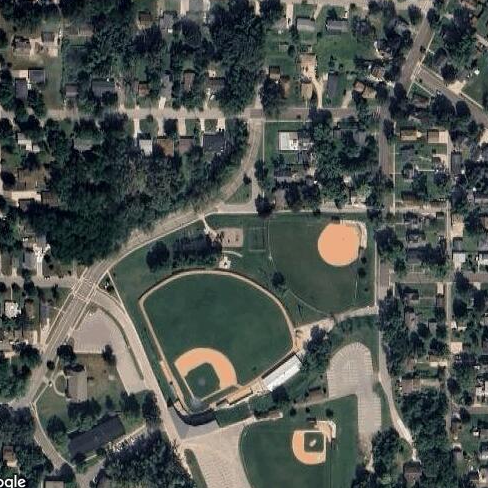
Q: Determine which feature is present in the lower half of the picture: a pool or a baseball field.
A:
baseball field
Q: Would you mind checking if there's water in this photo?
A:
No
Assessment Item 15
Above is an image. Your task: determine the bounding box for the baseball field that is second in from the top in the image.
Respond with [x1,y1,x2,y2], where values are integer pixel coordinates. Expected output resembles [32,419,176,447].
[139,268,295,415]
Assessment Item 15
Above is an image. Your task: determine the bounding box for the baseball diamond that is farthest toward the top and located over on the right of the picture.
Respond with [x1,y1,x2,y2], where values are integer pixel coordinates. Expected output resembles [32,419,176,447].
[269,217,369,318]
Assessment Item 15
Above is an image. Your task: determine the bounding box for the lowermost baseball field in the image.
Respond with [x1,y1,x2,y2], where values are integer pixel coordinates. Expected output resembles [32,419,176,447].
[239,413,333,488]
